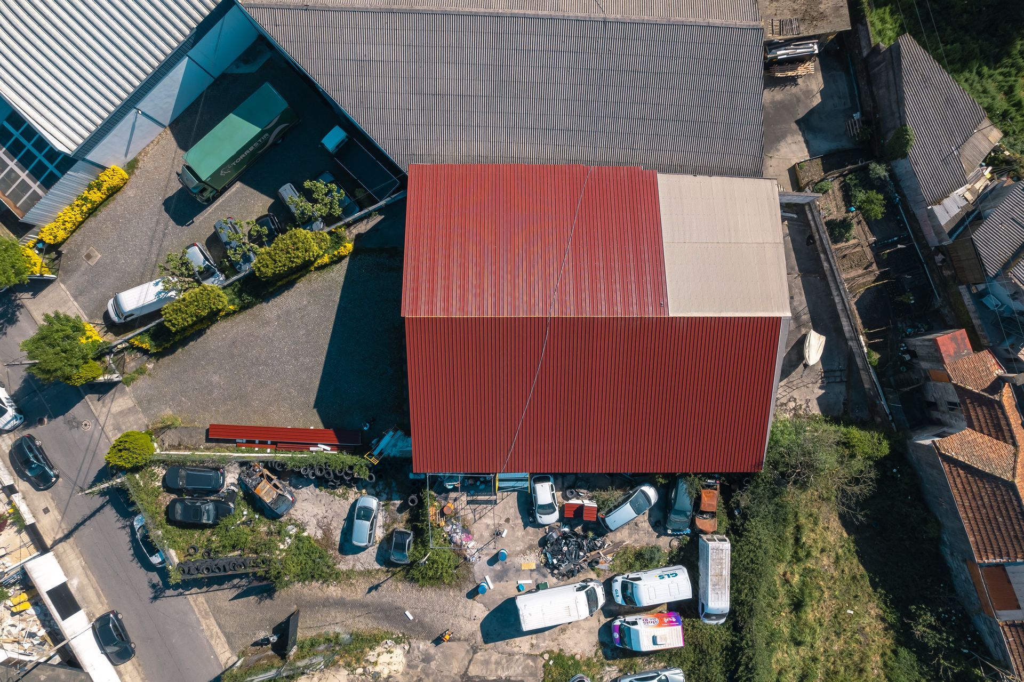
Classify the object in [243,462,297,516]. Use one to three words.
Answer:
car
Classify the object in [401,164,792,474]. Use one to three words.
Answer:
building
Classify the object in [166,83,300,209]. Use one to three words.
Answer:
truck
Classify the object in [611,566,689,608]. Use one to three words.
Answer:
van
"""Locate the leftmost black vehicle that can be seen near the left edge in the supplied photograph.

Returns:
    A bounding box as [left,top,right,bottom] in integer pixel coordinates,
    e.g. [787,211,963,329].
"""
[10,432,59,491]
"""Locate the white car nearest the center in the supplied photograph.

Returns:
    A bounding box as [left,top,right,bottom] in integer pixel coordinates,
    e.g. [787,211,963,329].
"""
[531,473,560,527]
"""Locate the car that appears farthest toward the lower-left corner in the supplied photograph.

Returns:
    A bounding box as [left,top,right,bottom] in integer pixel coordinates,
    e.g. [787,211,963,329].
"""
[92,610,135,664]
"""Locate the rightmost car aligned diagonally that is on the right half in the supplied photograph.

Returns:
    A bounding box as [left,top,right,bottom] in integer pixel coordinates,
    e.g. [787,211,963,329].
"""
[599,482,658,533]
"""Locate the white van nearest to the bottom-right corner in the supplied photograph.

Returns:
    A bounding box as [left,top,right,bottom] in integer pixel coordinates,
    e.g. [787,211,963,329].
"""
[696,537,731,625]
